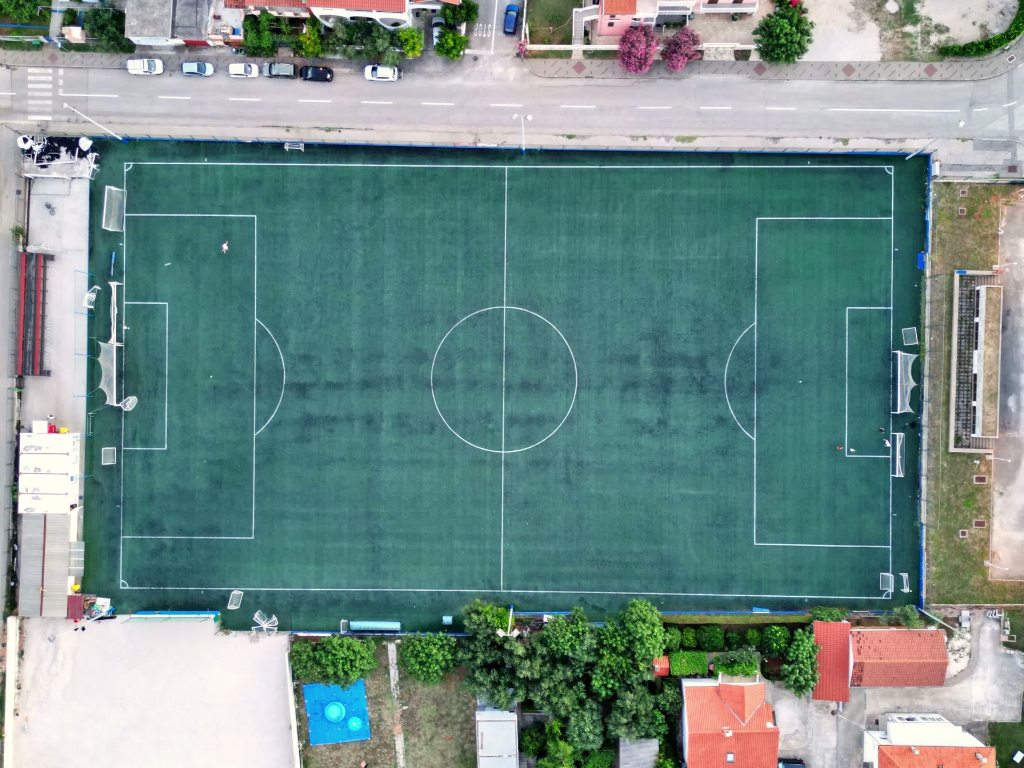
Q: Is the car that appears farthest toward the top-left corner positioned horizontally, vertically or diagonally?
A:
horizontally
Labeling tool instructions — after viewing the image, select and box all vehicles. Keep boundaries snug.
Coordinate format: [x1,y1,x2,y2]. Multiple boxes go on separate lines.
[778,754,808,768]
[299,62,332,81]
[364,62,402,81]
[430,15,447,50]
[228,60,259,78]
[502,4,519,38]
[123,56,162,76]
[180,58,214,77]
[262,60,297,79]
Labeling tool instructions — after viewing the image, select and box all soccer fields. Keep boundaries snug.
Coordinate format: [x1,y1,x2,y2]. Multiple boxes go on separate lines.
[84,140,929,634]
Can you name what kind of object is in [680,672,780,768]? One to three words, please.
house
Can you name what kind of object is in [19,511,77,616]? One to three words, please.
building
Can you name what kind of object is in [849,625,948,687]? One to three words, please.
shed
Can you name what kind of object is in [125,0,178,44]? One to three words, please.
building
